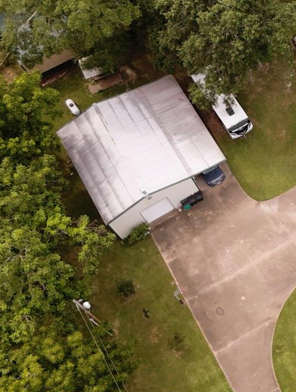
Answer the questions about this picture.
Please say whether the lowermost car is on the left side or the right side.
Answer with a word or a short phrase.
right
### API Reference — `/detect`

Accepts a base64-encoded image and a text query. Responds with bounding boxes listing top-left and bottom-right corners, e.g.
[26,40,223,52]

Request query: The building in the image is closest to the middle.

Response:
[55,75,233,238]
